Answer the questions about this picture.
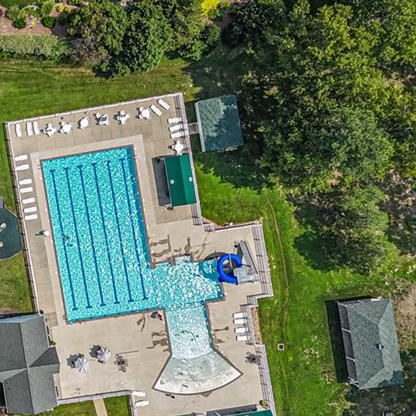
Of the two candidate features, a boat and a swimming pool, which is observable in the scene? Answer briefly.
swimming pool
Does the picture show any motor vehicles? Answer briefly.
No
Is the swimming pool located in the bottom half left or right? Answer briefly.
left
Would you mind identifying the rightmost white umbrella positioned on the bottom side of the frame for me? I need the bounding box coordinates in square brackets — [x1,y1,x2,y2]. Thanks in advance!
[95,348,112,364]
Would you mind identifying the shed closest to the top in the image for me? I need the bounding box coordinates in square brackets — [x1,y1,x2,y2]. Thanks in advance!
[190,96,242,152]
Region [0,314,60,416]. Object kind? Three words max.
building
